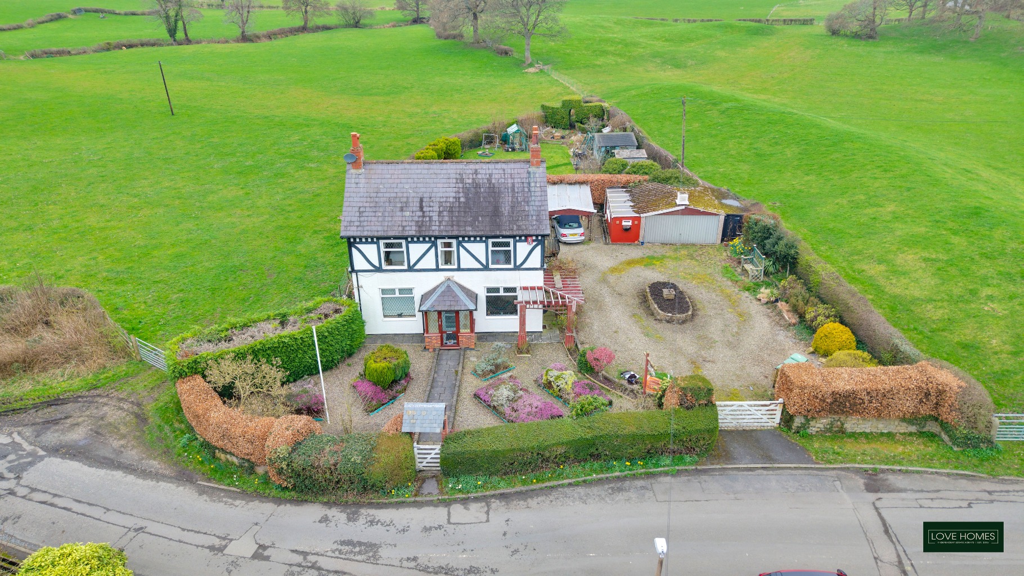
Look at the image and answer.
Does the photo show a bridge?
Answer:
No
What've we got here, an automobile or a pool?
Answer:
automobile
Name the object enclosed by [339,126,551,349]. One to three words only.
house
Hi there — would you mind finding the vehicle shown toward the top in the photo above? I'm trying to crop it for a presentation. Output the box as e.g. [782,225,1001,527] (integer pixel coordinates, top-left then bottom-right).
[552,216,587,244]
